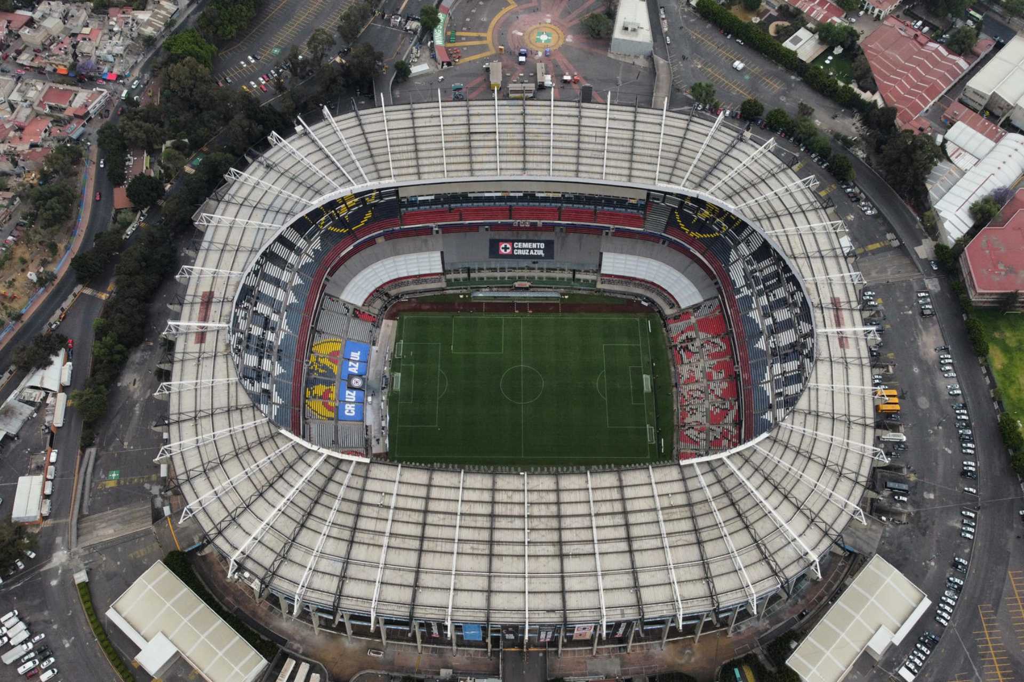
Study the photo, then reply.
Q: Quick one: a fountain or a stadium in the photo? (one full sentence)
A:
Visible in the photo is a stadium.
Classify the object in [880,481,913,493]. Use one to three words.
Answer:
vehicle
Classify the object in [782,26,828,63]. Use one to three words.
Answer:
building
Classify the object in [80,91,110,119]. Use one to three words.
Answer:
house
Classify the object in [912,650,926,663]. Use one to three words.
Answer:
vehicle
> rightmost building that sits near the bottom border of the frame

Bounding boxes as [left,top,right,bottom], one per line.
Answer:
[781,555,931,682]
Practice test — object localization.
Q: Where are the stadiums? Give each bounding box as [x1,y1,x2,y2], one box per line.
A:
[152,83,891,659]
